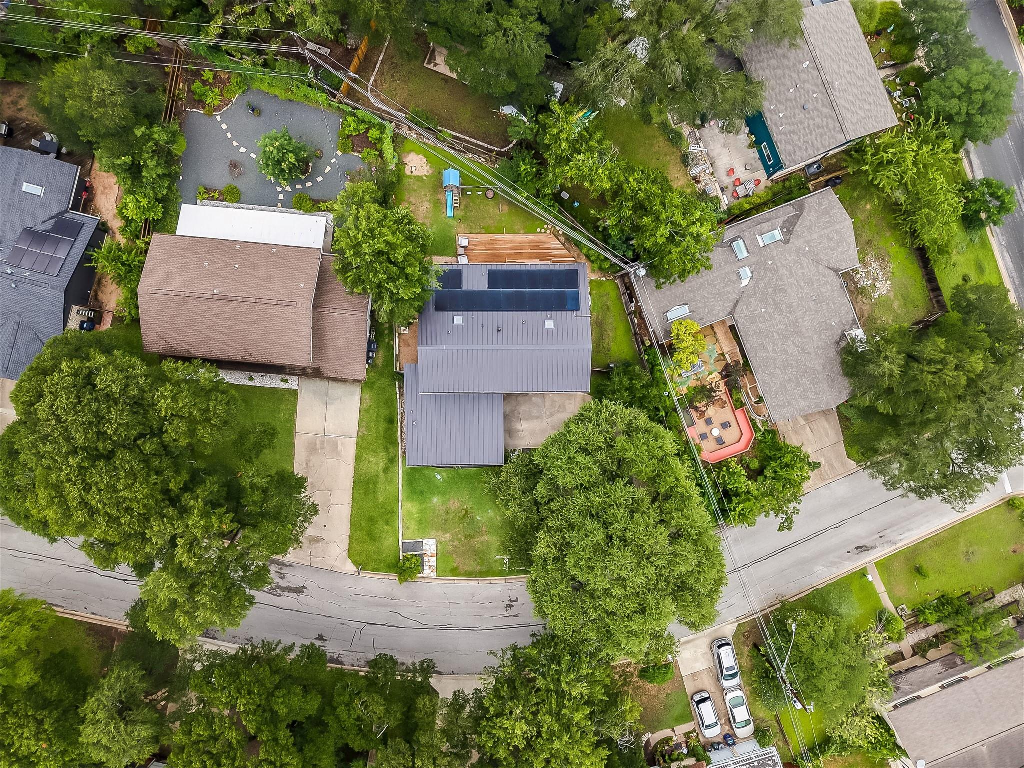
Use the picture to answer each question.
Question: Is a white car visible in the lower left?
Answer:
No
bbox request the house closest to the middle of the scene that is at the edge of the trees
[405,262,592,469]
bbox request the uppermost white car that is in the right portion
[710,637,746,696]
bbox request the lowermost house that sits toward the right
[702,732,783,768]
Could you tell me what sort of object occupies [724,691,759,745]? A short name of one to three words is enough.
car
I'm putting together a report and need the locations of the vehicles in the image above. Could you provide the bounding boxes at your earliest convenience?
[691,691,725,745]
[710,637,746,696]
[724,691,759,745]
